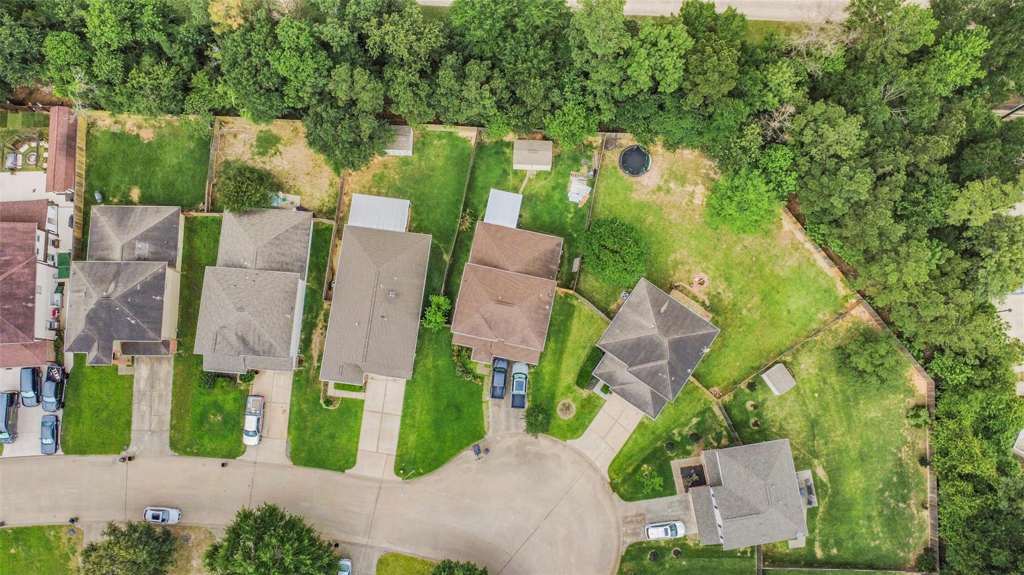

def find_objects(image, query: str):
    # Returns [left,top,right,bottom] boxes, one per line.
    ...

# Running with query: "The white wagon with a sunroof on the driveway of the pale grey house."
[644,520,686,540]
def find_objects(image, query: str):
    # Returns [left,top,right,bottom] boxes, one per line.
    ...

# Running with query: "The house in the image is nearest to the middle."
[450,221,564,366]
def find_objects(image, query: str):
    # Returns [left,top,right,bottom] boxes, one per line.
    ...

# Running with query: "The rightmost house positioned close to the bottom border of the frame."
[689,438,809,550]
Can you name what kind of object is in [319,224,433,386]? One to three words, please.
house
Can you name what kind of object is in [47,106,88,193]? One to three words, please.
shed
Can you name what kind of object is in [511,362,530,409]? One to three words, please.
vehicle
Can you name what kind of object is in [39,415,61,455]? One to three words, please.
car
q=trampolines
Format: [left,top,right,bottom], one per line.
[620,141,656,176]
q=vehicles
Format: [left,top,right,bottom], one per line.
[336,556,354,575]
[43,366,67,412]
[490,357,509,399]
[511,362,530,409]
[143,506,183,526]
[0,393,20,443]
[39,415,61,455]
[20,367,44,408]
[243,395,265,445]
[644,520,686,540]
